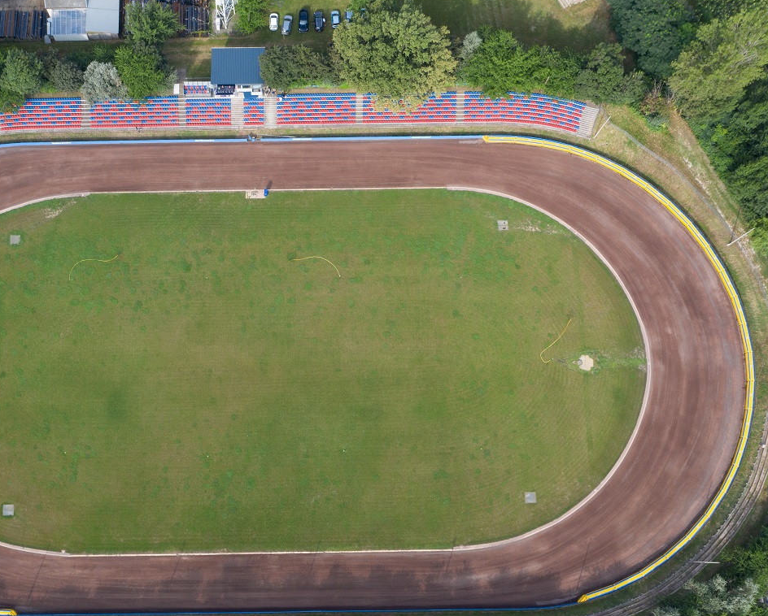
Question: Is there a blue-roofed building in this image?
Yes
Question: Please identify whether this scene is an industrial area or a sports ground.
sports ground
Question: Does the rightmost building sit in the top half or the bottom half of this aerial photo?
top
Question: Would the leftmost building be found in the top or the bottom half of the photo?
top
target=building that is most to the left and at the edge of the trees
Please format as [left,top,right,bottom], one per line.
[44,0,89,41]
